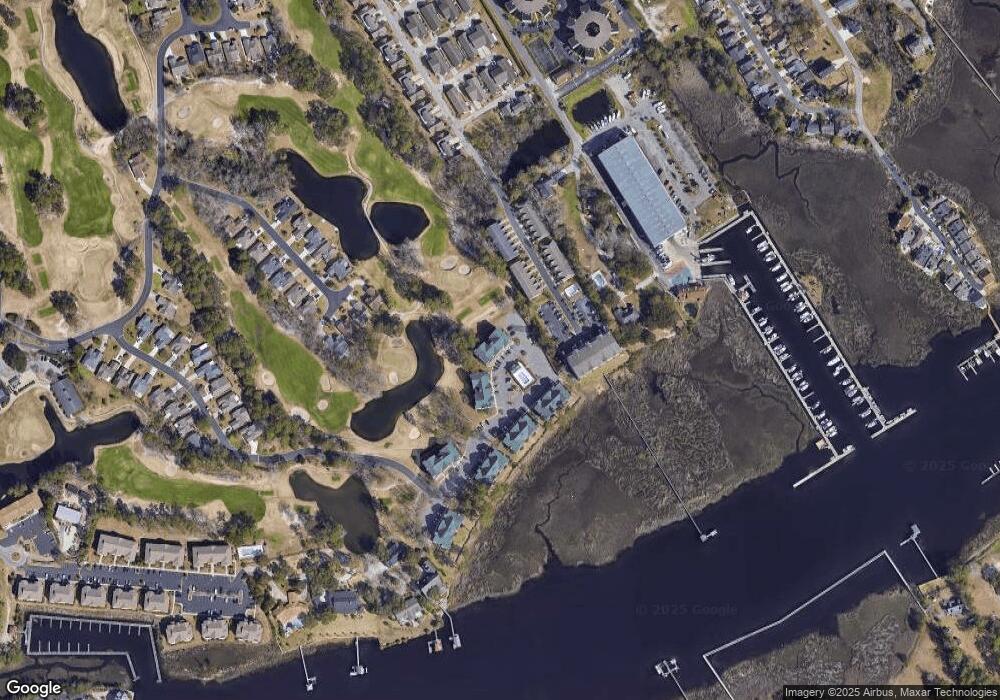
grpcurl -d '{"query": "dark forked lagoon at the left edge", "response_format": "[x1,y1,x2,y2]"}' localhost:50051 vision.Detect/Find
[0,396,139,508]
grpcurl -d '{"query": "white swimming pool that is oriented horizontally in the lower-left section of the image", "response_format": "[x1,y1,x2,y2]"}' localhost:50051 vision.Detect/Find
[238,545,264,558]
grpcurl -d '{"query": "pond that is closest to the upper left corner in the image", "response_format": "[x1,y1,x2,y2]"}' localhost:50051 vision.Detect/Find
[53,0,128,134]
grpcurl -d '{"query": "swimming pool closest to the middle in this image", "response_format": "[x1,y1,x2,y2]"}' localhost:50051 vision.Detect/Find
[514,366,535,388]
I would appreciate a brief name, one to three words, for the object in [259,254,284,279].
house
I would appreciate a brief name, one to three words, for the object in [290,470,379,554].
pond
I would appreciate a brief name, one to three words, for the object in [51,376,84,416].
building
